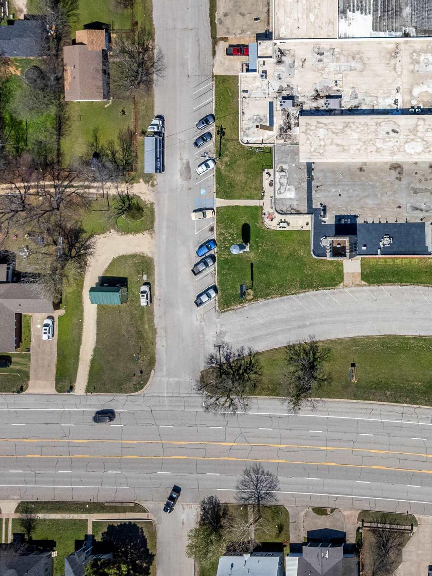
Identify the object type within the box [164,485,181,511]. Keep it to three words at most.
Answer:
vehicle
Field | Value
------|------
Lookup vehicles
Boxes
[164,485,181,511]
[193,286,218,307]
[191,256,216,275]
[194,240,219,257]
[144,117,163,173]
[196,159,216,175]
[93,412,115,423]
[196,115,216,131]
[0,358,11,367]
[42,319,55,340]
[192,209,214,219]
[140,284,151,304]
[193,133,214,149]
[225,44,249,56]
